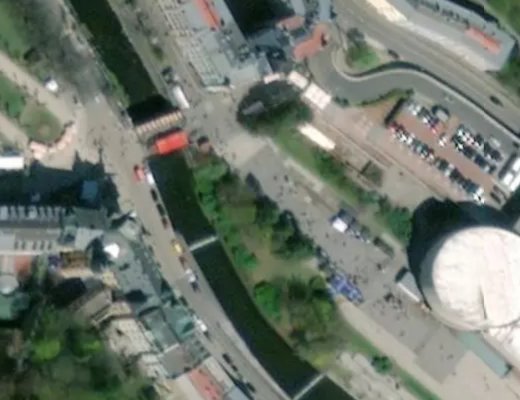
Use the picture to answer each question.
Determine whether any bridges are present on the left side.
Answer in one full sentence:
Yes, a bridge appears on the left side.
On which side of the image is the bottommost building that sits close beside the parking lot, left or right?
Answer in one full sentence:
The bottommost building that sits close beside the parking lot appears in the right half of the scene.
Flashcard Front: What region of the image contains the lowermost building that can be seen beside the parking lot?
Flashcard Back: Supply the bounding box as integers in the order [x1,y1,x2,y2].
[424,226,520,337]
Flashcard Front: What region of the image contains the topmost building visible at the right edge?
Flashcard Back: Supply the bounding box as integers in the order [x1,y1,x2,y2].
[390,0,517,76]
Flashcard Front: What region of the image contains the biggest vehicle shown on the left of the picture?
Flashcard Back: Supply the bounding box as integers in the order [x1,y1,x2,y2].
[172,86,188,108]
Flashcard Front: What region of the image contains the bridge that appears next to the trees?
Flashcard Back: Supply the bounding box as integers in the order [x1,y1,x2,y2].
[129,107,193,162]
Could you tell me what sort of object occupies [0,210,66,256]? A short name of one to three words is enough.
building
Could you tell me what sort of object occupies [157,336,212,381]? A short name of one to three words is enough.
house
